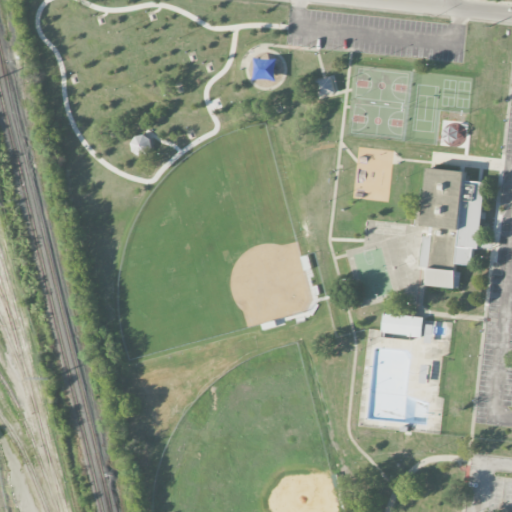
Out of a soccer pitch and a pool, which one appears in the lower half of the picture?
pool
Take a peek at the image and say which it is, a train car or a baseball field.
baseball field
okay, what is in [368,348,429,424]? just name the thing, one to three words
swimming pool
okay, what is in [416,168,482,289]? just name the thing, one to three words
building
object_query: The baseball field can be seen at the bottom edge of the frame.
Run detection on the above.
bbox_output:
[153,343,342,512]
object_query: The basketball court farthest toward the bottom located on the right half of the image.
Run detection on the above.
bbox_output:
[356,250,391,295]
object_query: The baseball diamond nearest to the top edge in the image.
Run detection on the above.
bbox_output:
[119,125,318,358]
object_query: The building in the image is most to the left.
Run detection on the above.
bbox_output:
[130,134,151,155]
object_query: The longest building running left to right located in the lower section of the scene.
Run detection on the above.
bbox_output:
[381,314,424,338]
